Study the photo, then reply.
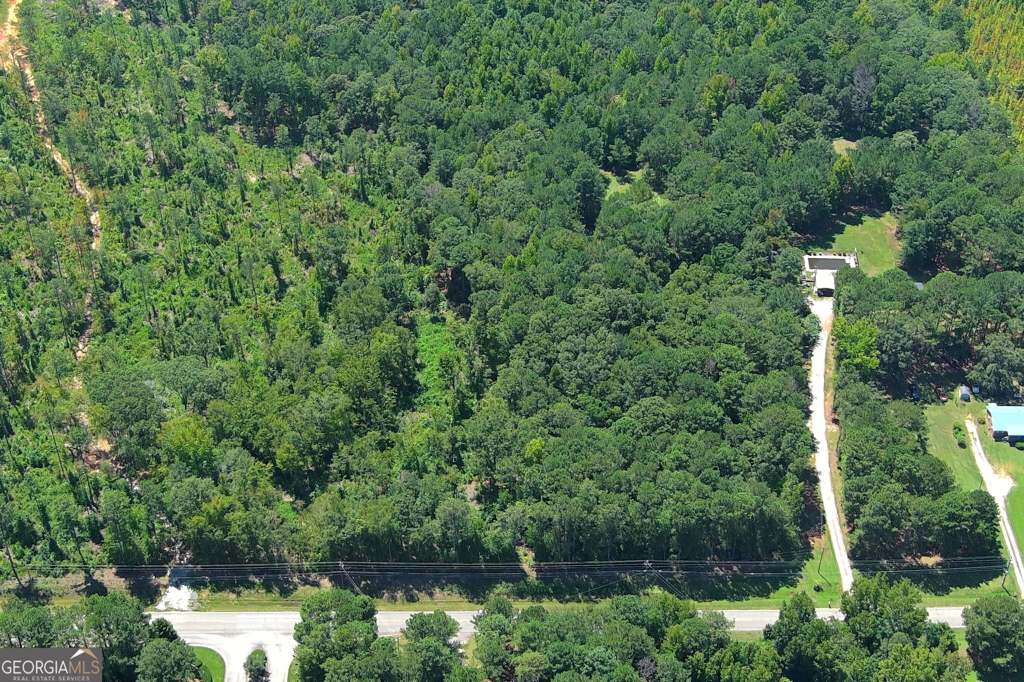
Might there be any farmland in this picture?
No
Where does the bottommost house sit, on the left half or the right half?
right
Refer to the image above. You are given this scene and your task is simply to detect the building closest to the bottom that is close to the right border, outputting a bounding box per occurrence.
[986,407,1024,449]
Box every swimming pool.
[804,255,856,272]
